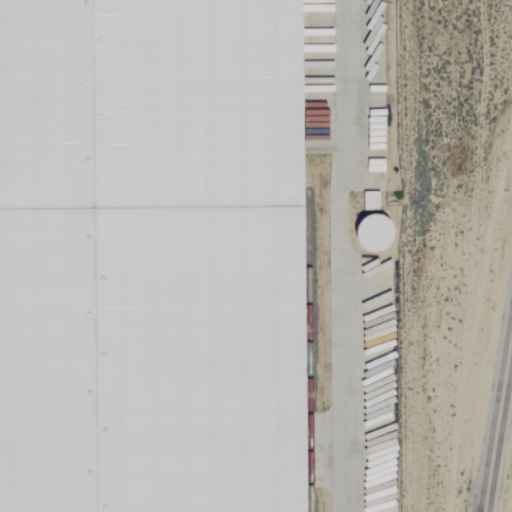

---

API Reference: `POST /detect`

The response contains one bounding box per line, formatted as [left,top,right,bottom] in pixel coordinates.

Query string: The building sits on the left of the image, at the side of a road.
[0,0,309,512]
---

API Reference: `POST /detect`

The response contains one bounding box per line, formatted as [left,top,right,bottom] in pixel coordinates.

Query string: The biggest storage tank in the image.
[357,214,396,253]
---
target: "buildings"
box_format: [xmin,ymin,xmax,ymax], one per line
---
[366,192,382,209]
[0,0,309,512]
